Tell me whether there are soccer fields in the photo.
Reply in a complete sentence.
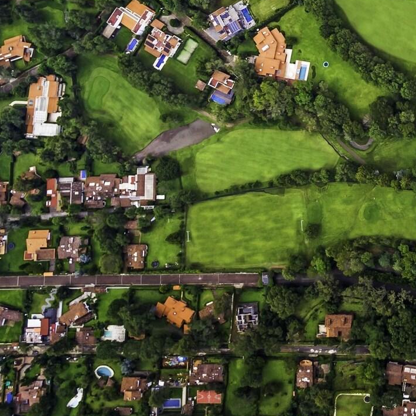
Yes, the picture does show a soccer field.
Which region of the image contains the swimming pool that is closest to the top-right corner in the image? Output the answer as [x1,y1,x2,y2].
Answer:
[295,60,311,81]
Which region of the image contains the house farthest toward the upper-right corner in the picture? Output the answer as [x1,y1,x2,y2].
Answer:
[254,22,302,79]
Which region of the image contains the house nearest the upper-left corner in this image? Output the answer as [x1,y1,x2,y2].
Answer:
[0,35,36,68]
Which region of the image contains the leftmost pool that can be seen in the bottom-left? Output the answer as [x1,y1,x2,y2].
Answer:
[67,391,83,409]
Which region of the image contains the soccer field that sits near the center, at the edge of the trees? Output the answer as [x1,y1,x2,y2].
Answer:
[190,195,301,264]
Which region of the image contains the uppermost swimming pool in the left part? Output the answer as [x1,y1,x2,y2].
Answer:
[124,35,139,54]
